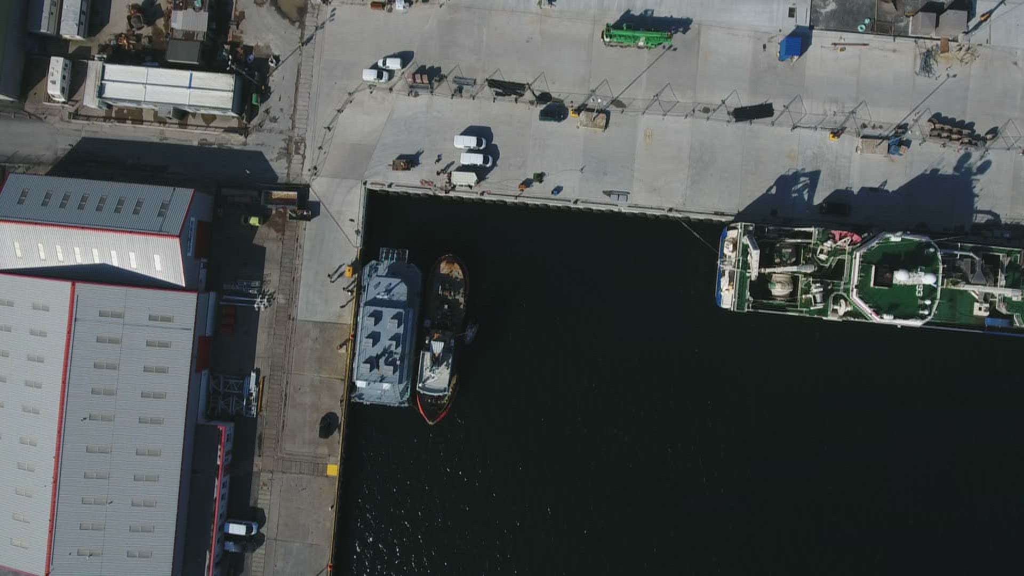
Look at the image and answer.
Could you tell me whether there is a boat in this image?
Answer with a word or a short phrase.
Yes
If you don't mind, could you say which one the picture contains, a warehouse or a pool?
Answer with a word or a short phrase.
warehouse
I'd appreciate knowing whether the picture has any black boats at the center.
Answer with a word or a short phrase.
Yes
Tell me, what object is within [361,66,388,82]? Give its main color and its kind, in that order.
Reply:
white vehicle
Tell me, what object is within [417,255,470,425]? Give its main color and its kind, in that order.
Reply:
black boat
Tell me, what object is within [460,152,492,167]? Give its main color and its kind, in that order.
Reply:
white vehicle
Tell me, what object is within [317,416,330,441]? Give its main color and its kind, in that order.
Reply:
black vehicle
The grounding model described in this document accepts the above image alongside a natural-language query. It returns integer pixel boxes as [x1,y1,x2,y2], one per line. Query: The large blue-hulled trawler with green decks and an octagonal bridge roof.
[718,221,1024,335]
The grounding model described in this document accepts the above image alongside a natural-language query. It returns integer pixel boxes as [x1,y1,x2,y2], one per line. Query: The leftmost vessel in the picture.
[352,248,423,408]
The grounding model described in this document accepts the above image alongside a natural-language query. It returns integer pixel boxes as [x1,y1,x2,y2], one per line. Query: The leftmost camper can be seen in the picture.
[43,54,69,108]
